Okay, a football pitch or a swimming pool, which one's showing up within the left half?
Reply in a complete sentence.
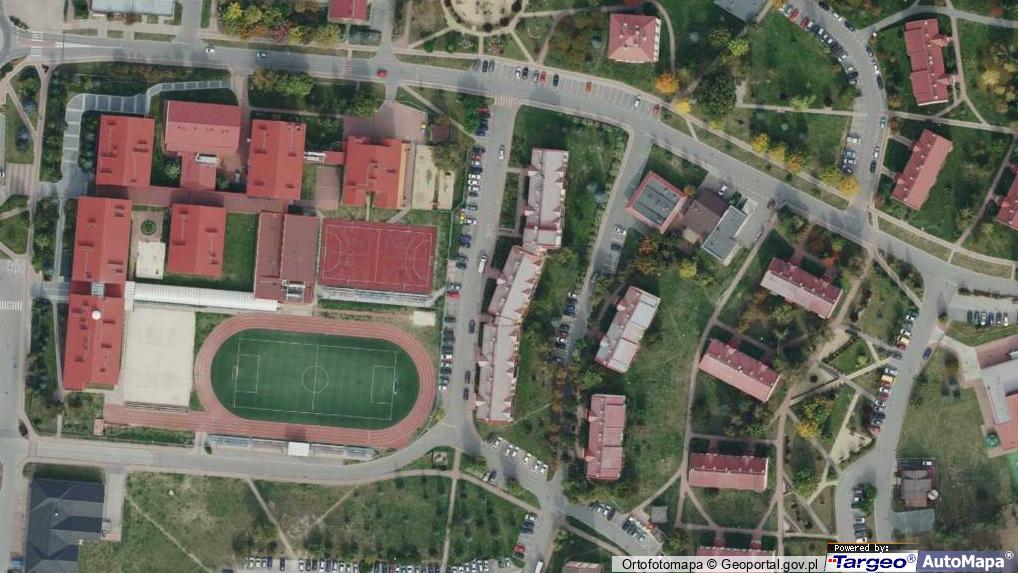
The feature located within the left half is a football pitch.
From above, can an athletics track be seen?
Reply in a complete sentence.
Yes, there is an athletics track in the image.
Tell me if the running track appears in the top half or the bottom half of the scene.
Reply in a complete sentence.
Seen from above, the running track lies in the bottom half of the view.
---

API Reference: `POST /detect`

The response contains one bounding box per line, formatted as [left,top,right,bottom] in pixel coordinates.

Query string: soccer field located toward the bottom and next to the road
[210,330,421,431]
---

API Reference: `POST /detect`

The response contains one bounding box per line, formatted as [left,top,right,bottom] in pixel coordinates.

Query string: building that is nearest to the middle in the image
[486,245,548,324]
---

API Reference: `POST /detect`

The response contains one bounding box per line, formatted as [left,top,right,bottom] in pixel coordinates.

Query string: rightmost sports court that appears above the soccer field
[319,219,436,293]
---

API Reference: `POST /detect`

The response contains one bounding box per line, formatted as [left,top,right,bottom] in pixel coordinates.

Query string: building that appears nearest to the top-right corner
[905,18,952,105]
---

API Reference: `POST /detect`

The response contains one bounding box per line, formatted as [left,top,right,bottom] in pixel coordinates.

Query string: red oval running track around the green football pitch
[103,314,437,447]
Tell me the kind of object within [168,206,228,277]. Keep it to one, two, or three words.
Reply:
building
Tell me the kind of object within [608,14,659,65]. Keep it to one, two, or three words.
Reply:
house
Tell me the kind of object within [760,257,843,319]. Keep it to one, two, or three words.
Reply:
building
